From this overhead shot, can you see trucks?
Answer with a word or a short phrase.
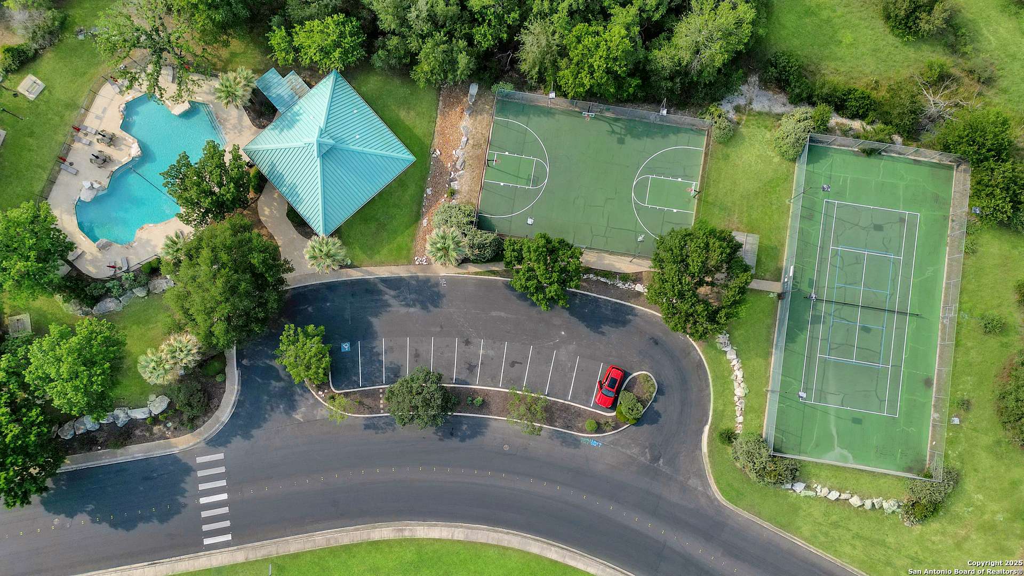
No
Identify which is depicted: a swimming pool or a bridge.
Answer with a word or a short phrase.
swimming pool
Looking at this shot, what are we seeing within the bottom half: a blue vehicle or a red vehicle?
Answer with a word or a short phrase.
red vehicle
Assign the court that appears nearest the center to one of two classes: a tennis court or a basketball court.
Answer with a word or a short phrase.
basketball court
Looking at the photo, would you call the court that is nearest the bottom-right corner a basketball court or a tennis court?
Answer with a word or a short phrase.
tennis court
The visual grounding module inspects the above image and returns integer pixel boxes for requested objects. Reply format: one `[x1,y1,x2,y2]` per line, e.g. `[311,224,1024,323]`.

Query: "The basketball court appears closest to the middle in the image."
[477,100,706,260]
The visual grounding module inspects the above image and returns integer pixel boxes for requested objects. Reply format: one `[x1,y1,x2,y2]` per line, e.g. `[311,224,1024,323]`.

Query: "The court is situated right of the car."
[762,144,953,475]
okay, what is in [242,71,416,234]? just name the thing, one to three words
building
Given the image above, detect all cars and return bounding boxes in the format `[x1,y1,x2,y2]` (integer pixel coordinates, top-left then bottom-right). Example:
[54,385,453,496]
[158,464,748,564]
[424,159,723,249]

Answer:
[595,365,623,408]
